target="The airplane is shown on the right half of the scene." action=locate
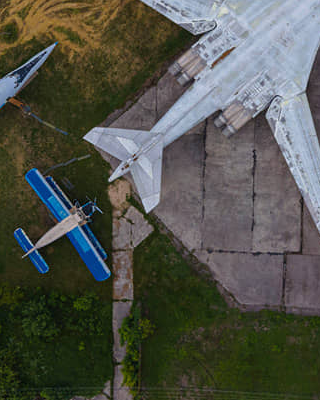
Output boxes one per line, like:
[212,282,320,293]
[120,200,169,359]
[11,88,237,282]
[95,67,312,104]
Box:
[83,0,320,234]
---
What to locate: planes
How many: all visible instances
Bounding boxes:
[14,169,110,281]
[0,43,57,109]
[83,0,320,234]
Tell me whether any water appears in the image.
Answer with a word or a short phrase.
No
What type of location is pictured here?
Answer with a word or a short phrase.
airport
